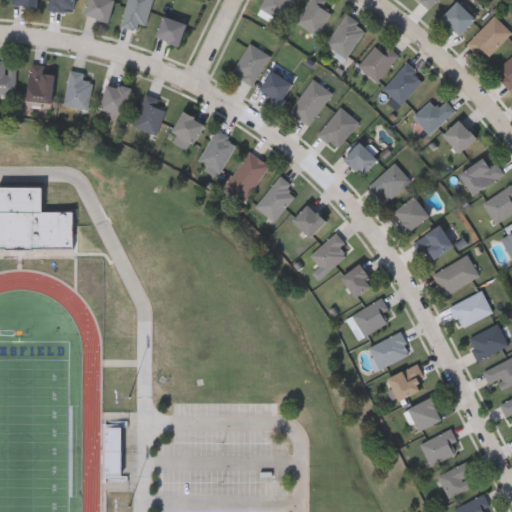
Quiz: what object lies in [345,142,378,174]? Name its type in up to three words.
house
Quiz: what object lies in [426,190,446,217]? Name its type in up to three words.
swimming pool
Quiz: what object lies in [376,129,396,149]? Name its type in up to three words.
swimming pool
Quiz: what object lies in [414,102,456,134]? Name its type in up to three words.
house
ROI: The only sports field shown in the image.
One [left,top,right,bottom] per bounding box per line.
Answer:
[0,290,82,512]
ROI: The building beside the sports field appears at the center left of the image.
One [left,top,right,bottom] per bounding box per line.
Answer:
[0,187,75,250]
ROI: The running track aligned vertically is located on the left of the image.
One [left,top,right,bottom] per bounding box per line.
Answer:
[0,270,102,512]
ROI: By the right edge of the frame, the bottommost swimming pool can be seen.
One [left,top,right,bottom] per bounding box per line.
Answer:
[490,240,510,268]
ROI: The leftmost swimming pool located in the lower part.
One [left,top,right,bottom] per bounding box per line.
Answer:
[358,350,374,375]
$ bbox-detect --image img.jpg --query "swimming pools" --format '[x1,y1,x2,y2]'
[358,350,374,375]
[448,176,459,186]
[490,240,510,268]
[378,93,388,103]
[376,129,396,149]
[426,190,446,217]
